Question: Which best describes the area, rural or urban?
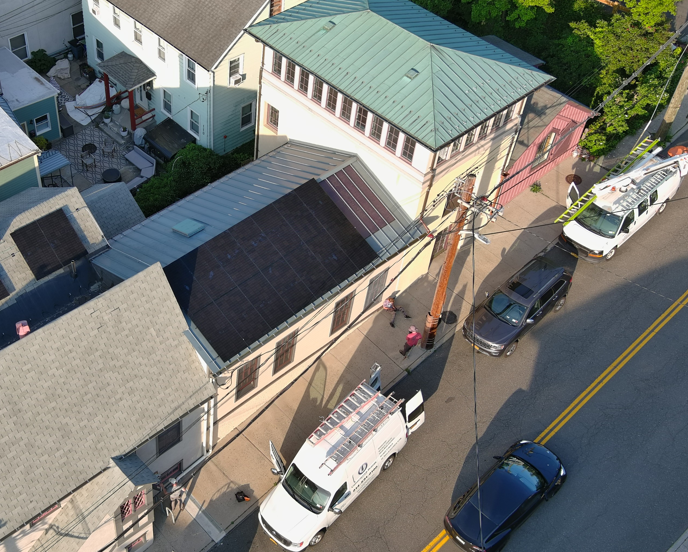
urban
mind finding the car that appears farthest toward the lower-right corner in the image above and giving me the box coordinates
[440,435,570,552]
